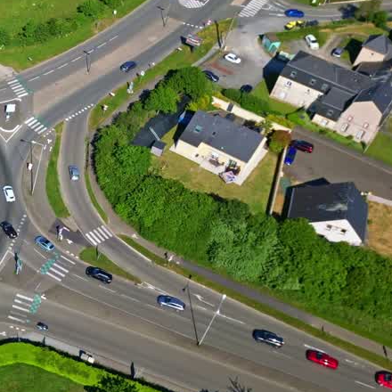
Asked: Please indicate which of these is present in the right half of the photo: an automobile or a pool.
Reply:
automobile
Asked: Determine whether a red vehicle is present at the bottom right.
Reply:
Yes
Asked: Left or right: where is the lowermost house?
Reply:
right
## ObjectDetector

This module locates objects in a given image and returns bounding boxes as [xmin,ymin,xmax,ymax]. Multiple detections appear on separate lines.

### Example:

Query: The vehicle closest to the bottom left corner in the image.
[35,321,51,333]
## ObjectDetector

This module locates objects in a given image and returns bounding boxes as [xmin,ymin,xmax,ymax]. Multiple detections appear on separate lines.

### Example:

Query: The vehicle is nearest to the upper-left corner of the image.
[120,61,138,74]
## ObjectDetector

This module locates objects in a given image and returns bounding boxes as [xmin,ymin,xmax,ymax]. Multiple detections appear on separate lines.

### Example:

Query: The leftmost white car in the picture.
[2,186,16,204]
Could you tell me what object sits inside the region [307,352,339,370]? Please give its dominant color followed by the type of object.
red car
